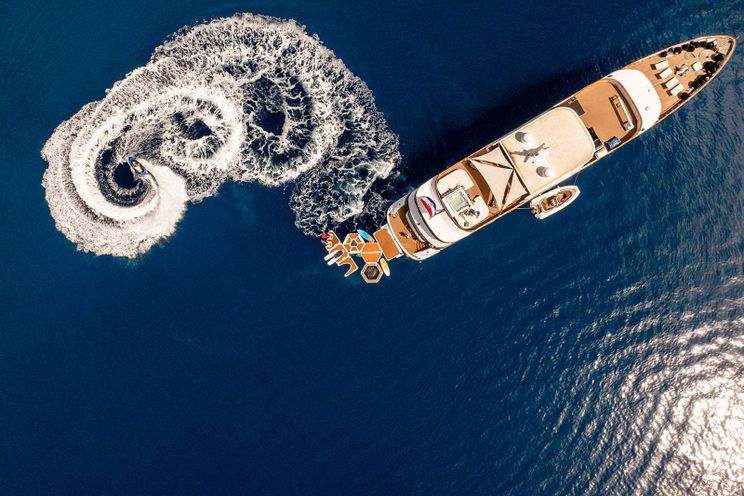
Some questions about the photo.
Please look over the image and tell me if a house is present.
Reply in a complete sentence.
No, I find no house anywhere in the image.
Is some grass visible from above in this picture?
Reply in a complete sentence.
No, the picture contains no grass.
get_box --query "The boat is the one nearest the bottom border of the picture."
[323,250,344,265]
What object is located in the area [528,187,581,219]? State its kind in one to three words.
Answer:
boat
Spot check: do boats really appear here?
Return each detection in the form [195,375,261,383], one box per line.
[373,33,744,261]
[129,158,146,176]
[528,187,581,219]
[323,250,344,265]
